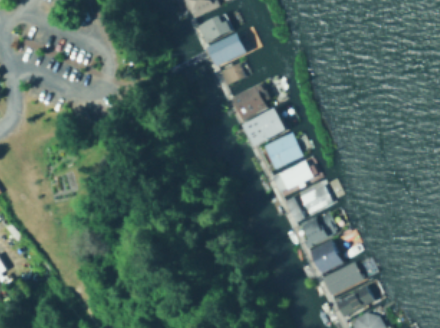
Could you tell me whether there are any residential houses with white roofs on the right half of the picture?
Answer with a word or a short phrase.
Yes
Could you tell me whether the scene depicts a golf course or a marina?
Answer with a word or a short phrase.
marina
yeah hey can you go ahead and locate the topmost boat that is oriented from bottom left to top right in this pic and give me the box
[347,246,363,258]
